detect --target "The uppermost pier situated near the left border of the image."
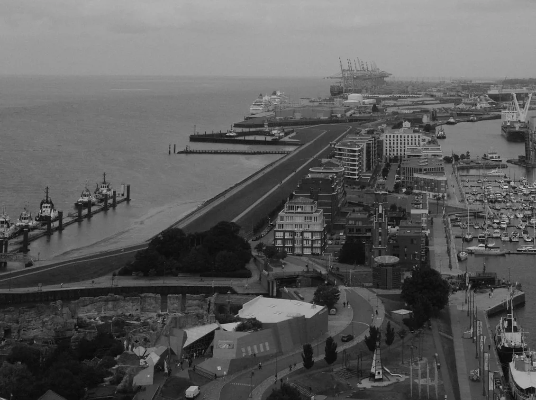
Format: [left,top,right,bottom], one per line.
[0,198,131,258]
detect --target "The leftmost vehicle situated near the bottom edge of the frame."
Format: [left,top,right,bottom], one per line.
[185,382,201,396]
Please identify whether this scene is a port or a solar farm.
port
